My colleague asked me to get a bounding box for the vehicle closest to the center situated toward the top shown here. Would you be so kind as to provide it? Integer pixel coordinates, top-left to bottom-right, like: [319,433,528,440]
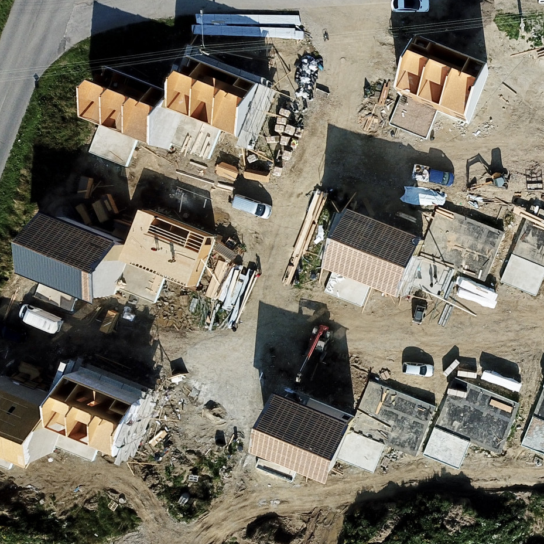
[231,192,274,220]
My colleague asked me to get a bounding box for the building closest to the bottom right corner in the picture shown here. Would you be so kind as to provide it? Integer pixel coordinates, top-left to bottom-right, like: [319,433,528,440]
[246,396,348,486]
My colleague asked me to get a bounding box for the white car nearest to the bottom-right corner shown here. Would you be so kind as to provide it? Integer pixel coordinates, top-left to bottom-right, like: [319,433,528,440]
[401,362,435,379]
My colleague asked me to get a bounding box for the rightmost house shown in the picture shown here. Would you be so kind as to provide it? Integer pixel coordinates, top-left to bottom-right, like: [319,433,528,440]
[393,37,484,121]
